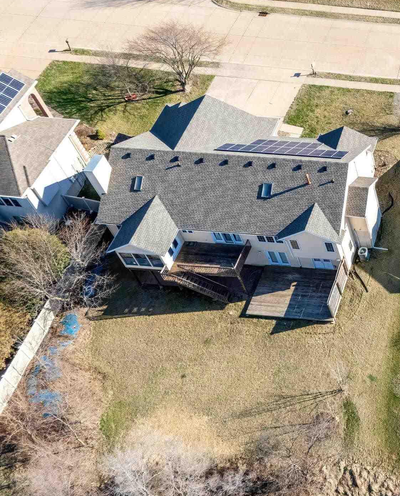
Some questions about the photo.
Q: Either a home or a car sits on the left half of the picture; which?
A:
home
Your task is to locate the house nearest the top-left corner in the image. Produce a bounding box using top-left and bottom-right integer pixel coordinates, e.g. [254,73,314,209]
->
[0,64,81,217]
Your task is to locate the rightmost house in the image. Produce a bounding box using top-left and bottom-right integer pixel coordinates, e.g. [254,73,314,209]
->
[72,91,378,294]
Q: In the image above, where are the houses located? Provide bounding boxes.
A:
[0,64,81,217]
[72,91,378,294]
